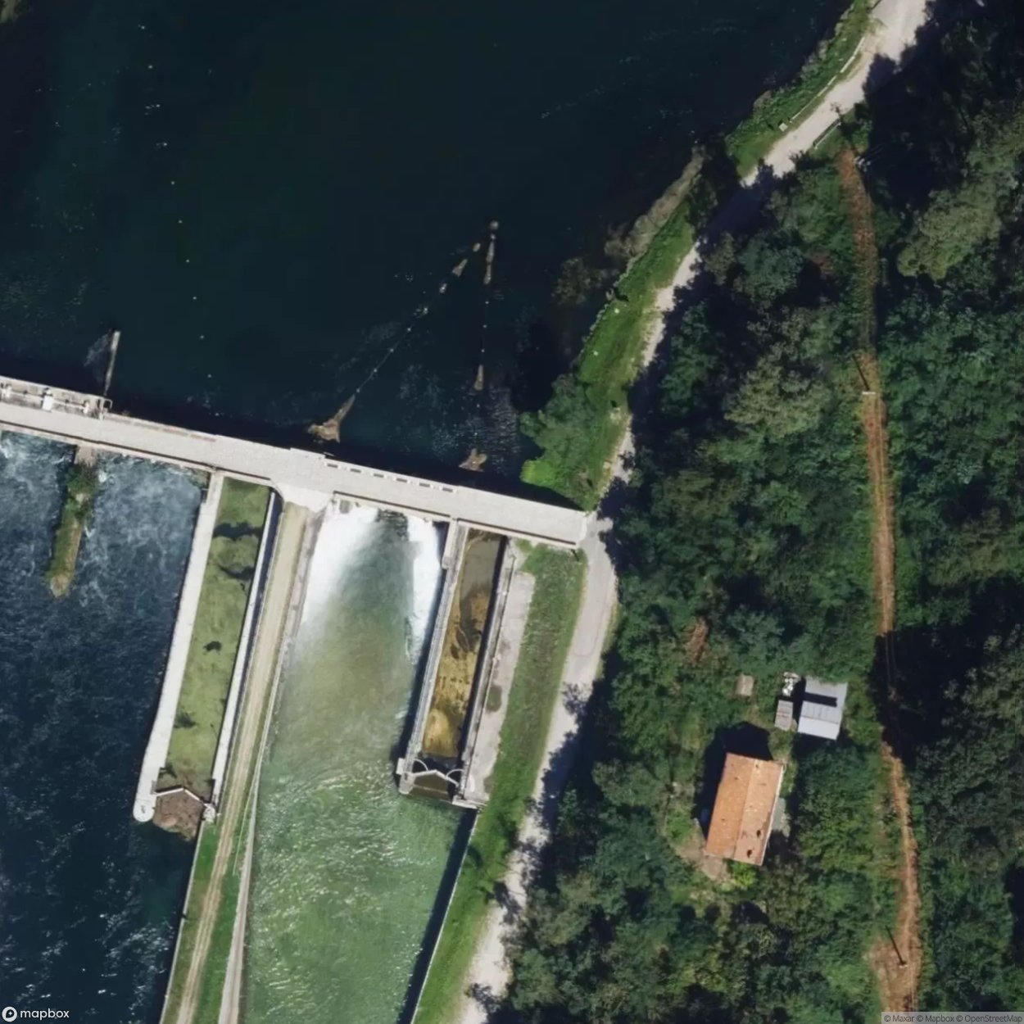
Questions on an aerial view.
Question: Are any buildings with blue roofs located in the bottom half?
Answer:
No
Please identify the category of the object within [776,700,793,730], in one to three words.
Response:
shed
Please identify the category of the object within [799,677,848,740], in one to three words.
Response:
shed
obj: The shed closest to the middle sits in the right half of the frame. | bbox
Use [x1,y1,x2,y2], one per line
[737,675,754,696]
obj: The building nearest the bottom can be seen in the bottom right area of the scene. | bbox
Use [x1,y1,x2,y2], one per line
[705,754,788,867]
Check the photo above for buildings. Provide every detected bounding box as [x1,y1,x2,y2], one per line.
[737,675,754,696]
[705,754,788,867]
[776,700,793,730]
[799,677,848,740]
